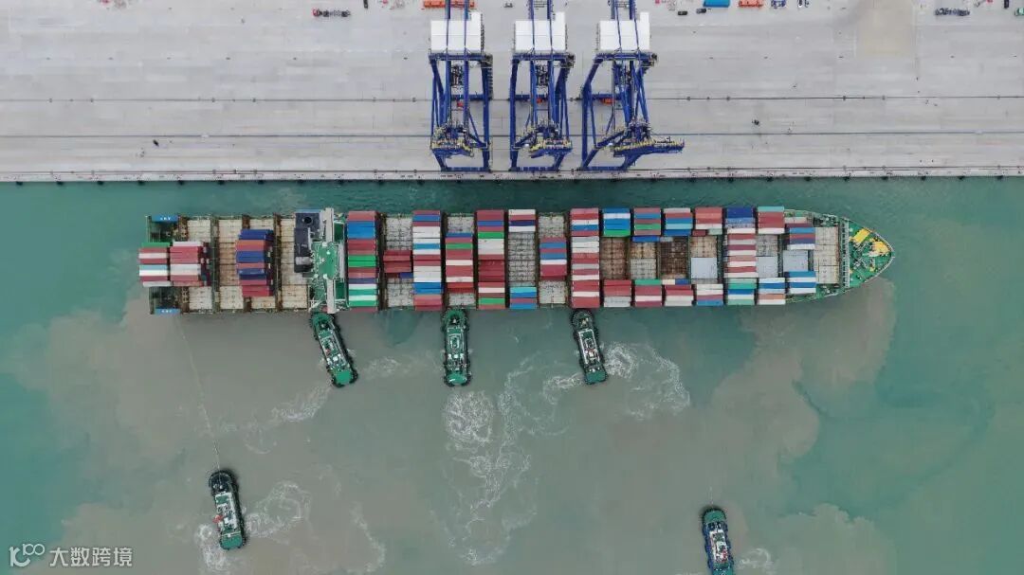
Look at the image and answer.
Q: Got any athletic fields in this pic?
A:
No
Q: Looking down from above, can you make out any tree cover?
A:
No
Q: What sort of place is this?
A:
port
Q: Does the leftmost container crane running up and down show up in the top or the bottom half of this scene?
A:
top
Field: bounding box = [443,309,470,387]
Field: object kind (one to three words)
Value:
boat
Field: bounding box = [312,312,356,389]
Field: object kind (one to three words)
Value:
boat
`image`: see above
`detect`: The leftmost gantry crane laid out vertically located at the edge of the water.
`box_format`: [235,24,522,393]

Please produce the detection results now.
[426,0,496,171]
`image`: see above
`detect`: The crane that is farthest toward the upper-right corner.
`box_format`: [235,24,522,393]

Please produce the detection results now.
[573,0,685,171]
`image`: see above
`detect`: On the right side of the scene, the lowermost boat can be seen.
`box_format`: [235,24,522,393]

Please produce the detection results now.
[701,507,736,575]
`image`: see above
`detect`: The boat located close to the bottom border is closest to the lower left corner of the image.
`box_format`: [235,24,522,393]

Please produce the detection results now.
[209,472,245,550]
